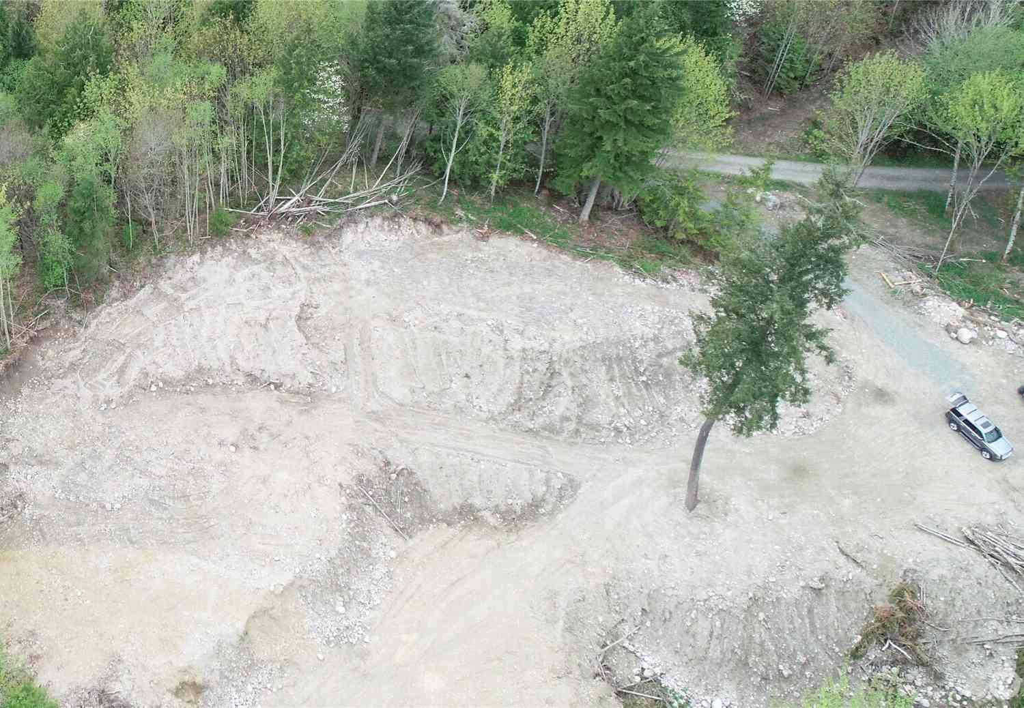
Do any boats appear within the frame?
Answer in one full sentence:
No, there's no boat here.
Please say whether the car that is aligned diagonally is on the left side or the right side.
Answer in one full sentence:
You can find the car that is aligned diagonally on the right side of the picture.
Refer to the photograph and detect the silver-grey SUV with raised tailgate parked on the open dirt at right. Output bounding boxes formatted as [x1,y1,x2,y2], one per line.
[948,388,1020,462]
